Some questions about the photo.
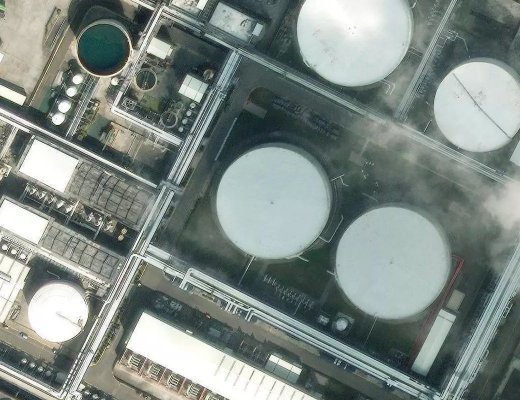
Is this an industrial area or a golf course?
industrial area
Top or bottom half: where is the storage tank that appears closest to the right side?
top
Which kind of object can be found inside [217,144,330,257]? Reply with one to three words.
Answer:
storage tank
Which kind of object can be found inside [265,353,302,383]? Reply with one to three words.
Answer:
shed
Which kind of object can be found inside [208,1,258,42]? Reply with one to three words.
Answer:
building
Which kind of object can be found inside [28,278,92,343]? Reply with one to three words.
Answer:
storage tank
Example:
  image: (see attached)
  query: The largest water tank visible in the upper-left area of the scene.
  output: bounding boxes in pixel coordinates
[76,12,140,77]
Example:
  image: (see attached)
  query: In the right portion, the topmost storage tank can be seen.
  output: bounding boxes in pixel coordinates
[297,0,412,86]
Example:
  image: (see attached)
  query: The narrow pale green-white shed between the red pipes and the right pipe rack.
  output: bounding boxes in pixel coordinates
[411,309,457,375]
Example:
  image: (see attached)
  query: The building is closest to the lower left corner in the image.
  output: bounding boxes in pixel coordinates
[0,250,32,323]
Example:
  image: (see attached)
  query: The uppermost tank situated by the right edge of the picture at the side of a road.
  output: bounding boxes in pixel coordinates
[433,59,520,152]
